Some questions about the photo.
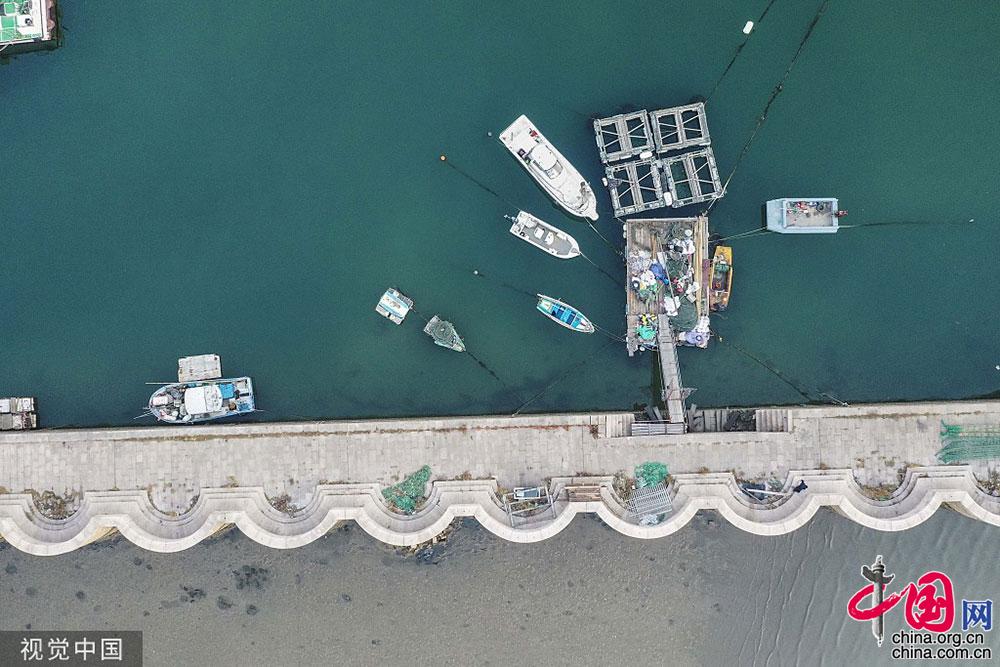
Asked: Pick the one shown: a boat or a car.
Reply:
boat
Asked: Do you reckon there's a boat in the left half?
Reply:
Yes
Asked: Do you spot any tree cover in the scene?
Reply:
No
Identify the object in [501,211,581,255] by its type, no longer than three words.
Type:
boat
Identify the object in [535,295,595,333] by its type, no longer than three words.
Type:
boat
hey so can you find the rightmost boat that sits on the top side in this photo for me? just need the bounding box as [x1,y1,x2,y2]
[766,198,847,233]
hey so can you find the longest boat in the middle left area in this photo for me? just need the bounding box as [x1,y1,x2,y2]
[135,377,255,424]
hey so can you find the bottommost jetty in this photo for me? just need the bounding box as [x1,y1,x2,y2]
[0,397,1000,555]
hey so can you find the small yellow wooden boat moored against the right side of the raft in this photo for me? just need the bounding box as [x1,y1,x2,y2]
[710,246,734,313]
